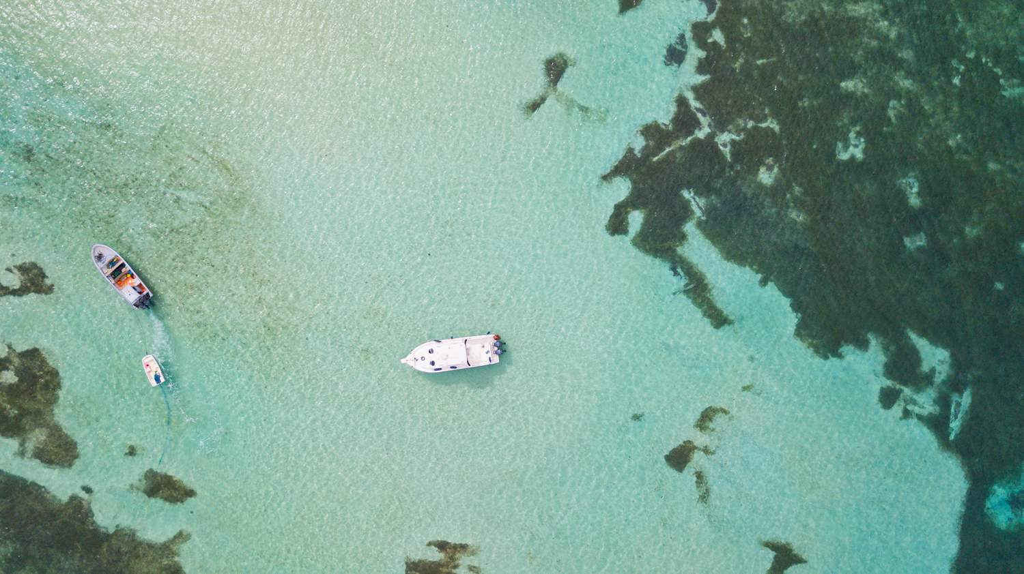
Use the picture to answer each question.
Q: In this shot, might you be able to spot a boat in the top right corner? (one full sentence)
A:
No, there is no boat in the top right corner.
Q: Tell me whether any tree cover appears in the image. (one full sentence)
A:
No, tree cover can't be seen anywhere here.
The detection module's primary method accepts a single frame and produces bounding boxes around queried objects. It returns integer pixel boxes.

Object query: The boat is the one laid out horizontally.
[401,335,510,373]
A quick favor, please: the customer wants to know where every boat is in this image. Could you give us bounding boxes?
[142,354,166,386]
[90,243,154,314]
[401,335,510,373]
